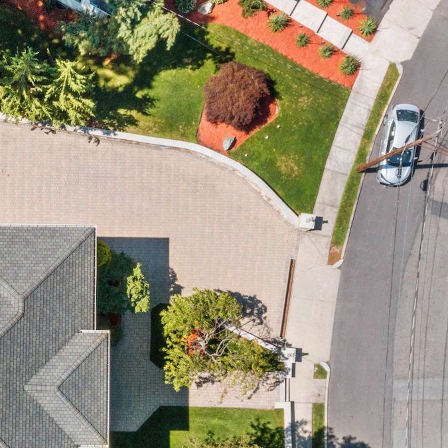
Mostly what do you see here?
paved ground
